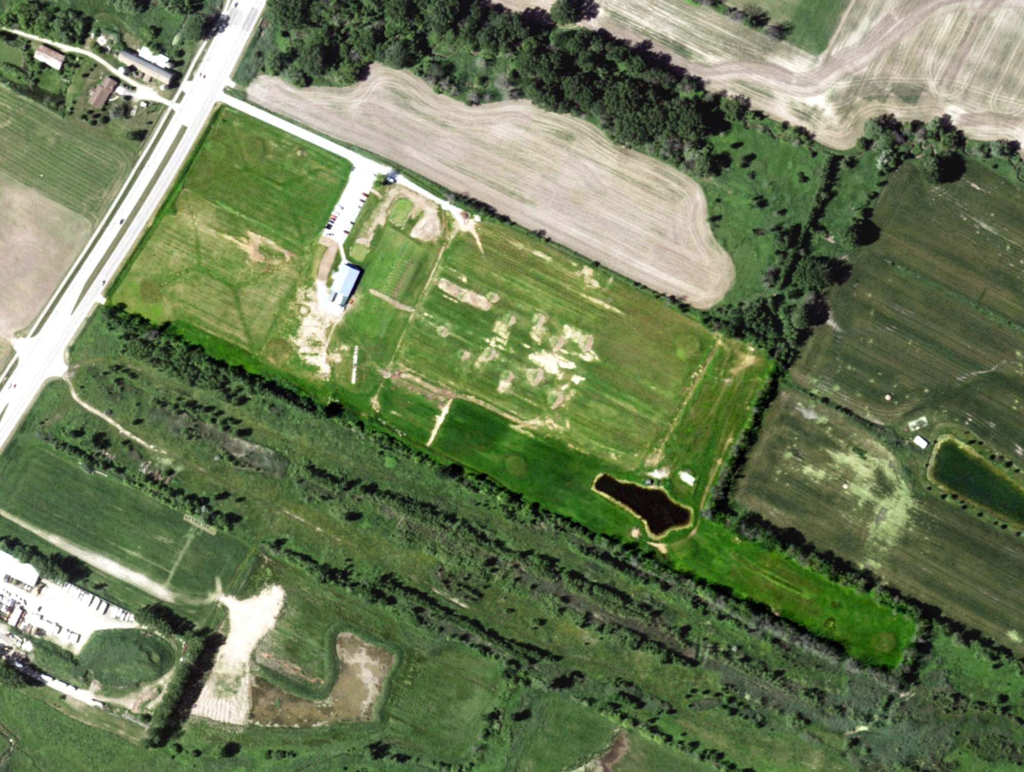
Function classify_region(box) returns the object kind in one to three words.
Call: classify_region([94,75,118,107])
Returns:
house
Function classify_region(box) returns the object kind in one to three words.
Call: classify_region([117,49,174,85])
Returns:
barn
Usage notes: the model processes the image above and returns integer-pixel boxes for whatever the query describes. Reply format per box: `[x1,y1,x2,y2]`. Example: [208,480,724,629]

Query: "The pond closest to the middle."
[594,474,692,537]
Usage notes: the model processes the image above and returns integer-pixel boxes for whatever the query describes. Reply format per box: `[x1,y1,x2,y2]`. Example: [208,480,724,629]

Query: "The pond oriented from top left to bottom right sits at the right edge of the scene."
[930,437,1024,526]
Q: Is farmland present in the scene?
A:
Yes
